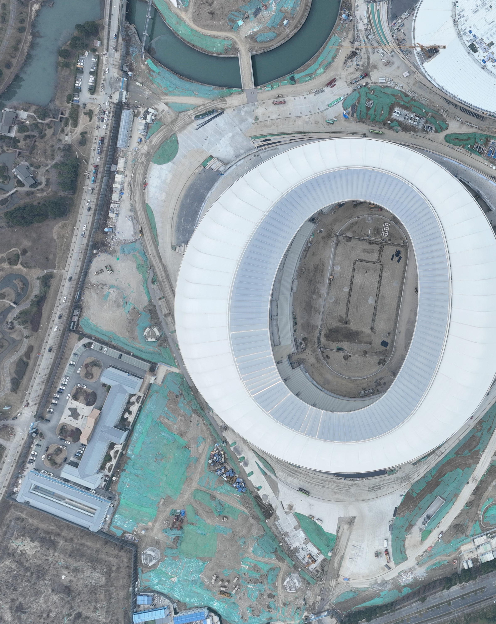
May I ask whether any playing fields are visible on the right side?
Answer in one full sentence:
Yes, a playing field is visible on the right side.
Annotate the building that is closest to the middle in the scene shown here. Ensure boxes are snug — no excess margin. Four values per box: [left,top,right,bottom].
[104,364,147,393]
